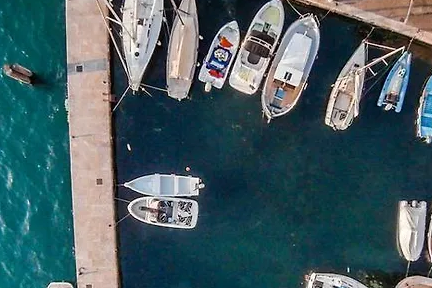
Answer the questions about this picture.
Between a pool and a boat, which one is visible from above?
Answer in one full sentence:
Of the two, only a boat appears.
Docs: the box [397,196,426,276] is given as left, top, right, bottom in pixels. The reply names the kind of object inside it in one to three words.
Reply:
boat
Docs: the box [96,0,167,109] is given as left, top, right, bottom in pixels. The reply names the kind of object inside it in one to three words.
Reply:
boat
